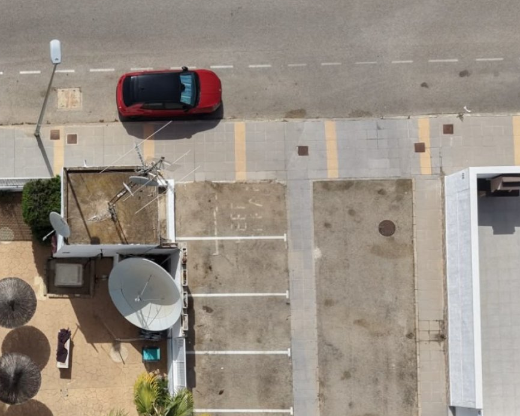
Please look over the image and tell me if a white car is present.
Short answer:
No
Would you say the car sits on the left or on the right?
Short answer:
left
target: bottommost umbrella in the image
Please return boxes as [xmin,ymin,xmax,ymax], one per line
[0,351,40,403]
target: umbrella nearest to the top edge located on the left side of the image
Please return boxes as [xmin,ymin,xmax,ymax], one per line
[0,275,36,330]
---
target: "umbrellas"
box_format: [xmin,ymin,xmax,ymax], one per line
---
[0,275,36,330]
[0,351,40,403]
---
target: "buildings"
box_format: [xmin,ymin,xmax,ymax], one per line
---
[444,164,520,416]
[51,168,193,336]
